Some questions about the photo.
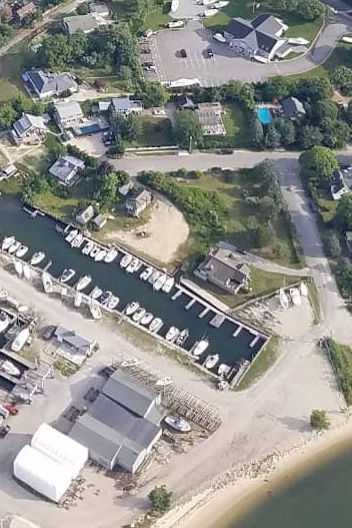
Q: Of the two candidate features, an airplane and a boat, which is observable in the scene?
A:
boat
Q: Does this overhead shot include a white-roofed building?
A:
Yes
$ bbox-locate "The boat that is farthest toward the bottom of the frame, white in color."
[163,415,190,432]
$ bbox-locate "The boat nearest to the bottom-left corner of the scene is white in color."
[0,356,20,376]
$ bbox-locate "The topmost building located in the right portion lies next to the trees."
[219,13,299,66]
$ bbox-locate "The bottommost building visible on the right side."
[196,244,251,304]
